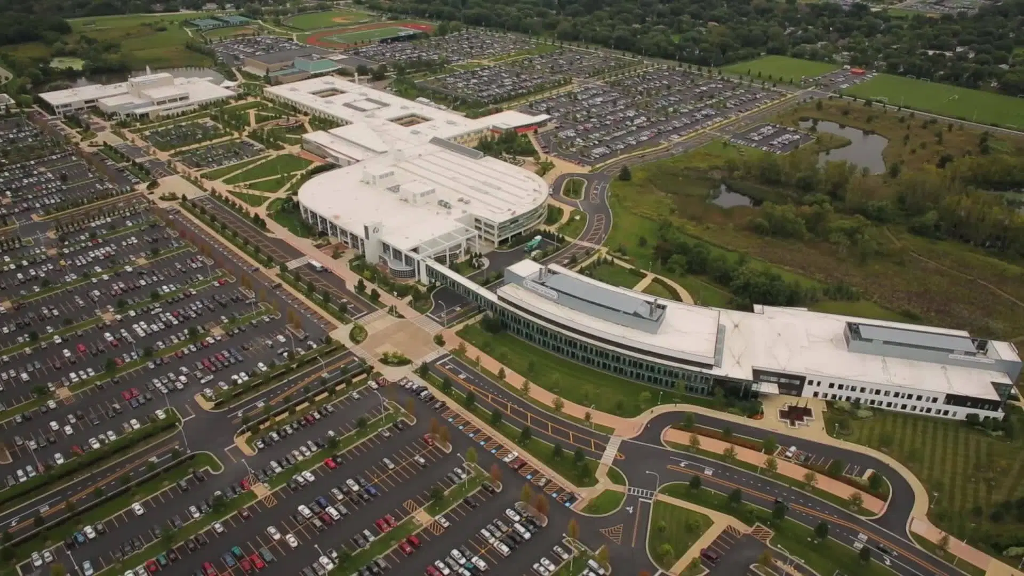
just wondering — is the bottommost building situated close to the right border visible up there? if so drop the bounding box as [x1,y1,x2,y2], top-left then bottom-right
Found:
[720,305,1021,429]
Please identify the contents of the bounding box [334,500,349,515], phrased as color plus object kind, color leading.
gray car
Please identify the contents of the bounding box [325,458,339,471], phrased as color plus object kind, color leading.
red vehicle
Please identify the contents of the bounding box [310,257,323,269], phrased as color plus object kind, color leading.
white vehicle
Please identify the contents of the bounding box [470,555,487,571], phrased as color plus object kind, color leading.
white car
